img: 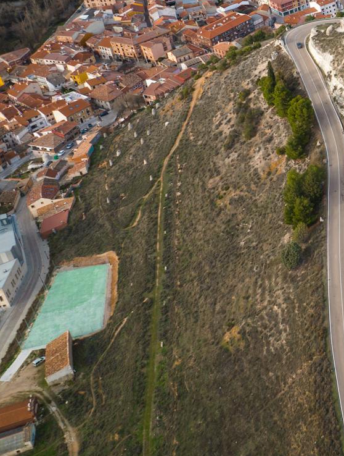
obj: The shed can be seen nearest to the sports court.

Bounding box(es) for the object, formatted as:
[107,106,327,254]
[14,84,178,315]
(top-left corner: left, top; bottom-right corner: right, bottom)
[41,337,79,385]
